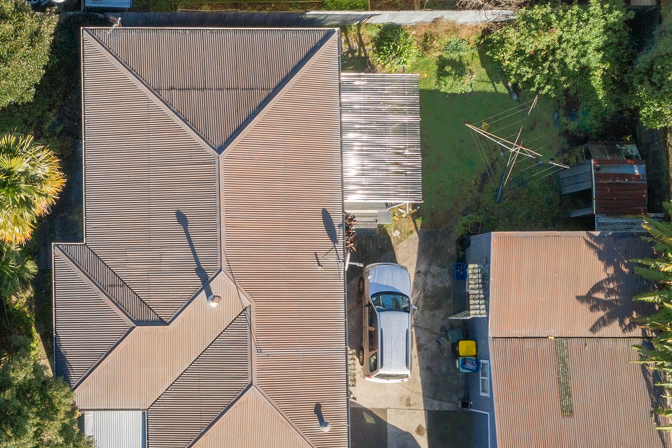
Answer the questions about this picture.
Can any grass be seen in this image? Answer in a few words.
Yes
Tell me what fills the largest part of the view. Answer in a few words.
buildings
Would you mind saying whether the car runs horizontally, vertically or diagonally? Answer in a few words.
vertically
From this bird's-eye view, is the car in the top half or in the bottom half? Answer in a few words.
bottom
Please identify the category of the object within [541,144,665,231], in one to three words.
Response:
shed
